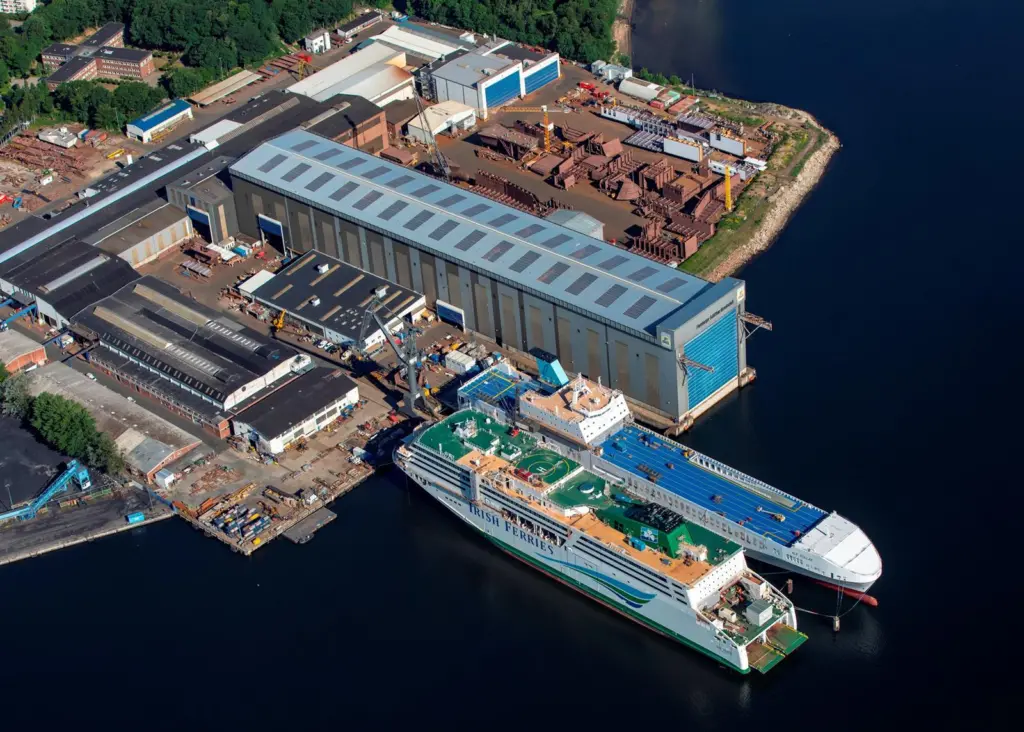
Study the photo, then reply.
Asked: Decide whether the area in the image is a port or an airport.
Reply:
port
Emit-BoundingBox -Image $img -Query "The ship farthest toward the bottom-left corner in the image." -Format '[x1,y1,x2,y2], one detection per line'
[286,509,337,546]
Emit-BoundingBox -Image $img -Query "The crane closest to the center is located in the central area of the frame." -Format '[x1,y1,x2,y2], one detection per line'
[485,376,525,432]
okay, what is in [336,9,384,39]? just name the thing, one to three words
building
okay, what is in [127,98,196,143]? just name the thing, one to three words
shed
